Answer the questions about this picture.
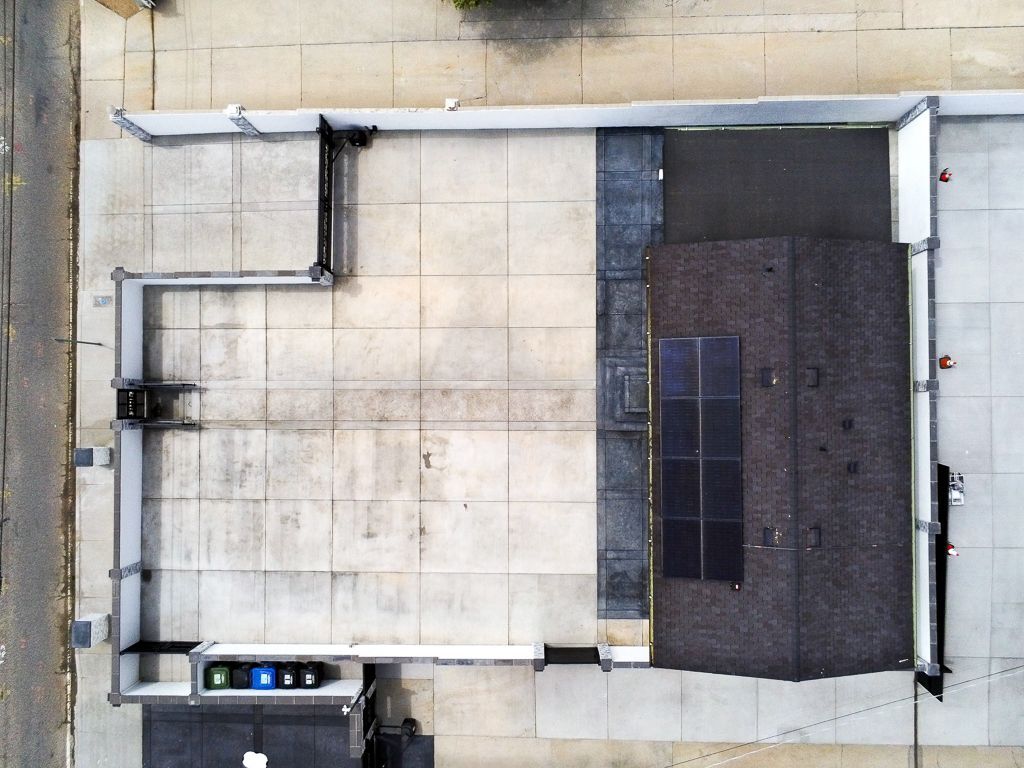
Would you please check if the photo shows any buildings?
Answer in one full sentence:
Yes, there's a building here.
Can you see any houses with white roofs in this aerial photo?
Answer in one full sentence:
No, the frame has no house with a white roof in it.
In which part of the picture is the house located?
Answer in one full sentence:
The house is located in the right region of the scene.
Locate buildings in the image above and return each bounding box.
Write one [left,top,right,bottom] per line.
[648,236,915,683]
